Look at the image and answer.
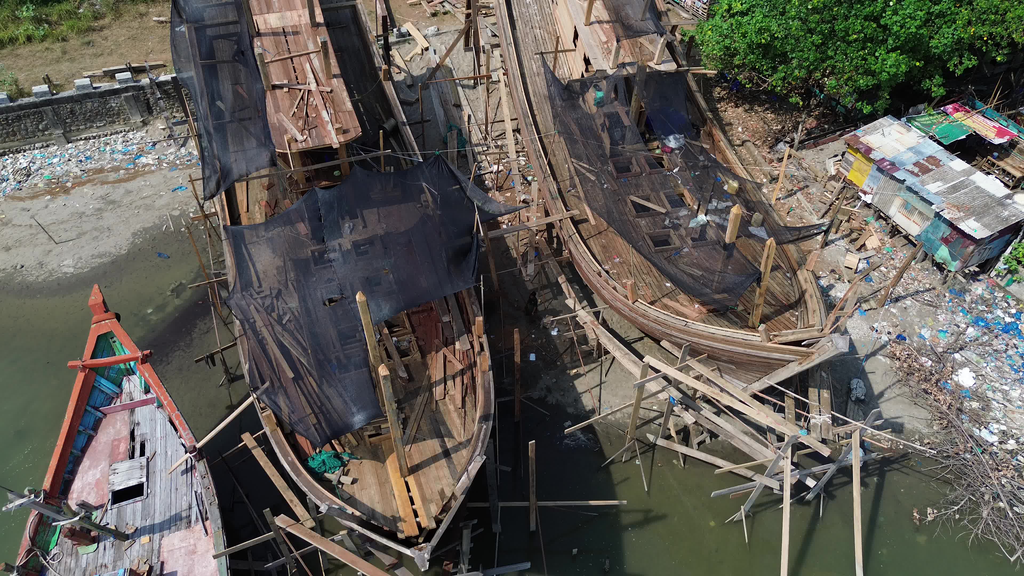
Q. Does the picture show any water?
Yes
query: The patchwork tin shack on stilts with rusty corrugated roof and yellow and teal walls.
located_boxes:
[835,111,1024,274]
